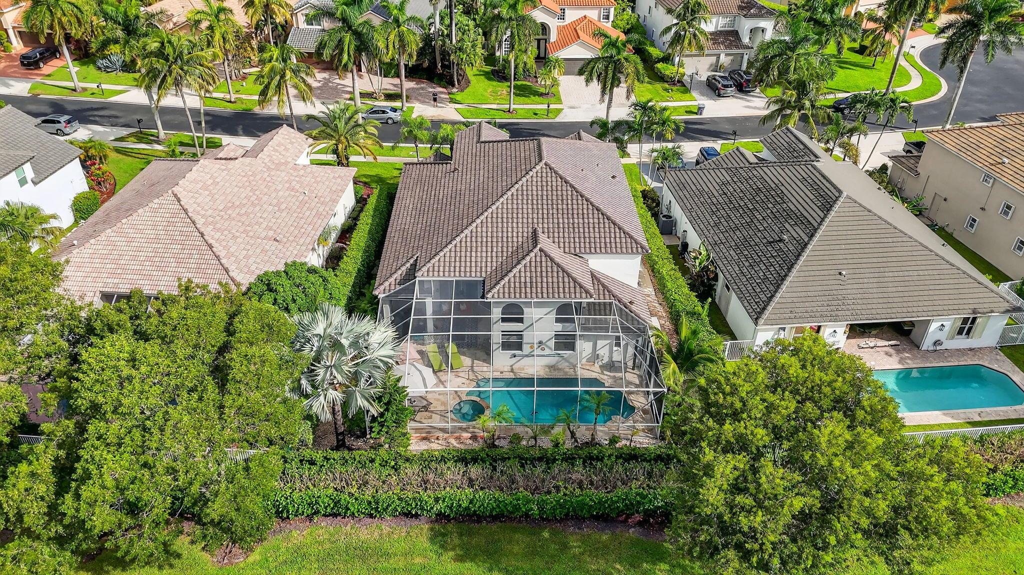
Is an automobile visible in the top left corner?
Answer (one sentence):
Yes, you'll find an automobile in the top left corner.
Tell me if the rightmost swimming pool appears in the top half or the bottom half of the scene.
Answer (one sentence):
The bottom half of the photo is where the rightmost swimming pool is.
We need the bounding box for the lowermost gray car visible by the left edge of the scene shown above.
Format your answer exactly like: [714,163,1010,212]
[35,109,77,133]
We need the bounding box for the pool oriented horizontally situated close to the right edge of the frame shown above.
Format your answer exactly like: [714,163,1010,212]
[853,361,1024,419]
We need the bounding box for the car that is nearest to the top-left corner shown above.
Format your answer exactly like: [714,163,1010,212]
[22,46,57,64]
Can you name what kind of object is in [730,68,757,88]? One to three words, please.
car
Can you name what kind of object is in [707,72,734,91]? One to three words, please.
car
